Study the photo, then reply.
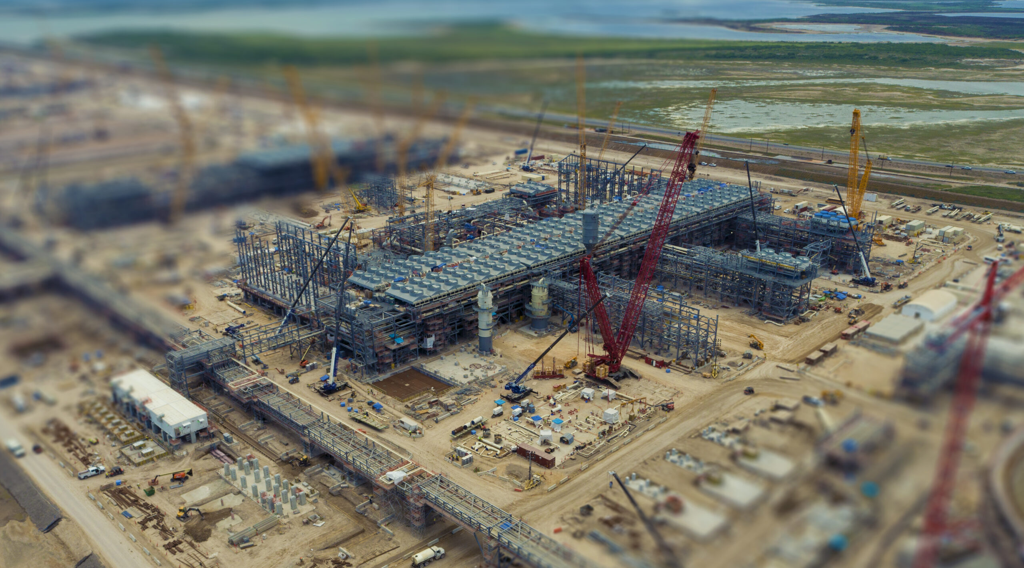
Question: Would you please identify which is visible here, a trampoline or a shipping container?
shipping container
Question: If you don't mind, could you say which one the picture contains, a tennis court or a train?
train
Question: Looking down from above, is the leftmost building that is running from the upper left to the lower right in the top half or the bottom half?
bottom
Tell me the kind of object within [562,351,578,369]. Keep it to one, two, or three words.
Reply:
work vehicle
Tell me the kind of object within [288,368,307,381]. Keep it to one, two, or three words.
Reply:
vehicle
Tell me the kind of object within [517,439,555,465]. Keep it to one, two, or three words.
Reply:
shipping container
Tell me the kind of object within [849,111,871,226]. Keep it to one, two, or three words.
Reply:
crane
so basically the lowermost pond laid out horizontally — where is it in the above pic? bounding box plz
[660,100,1024,132]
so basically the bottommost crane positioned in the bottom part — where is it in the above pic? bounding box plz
[607,470,706,568]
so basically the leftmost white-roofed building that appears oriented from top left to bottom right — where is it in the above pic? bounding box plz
[112,370,213,453]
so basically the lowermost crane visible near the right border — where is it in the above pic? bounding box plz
[925,269,1024,568]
